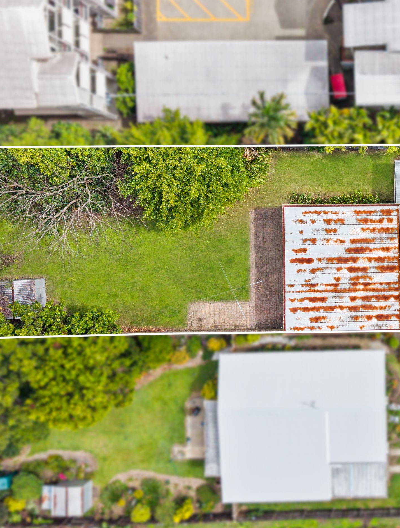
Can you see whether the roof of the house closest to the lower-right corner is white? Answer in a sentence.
Yes, the roof of the house closest to the lower-right corner appears white.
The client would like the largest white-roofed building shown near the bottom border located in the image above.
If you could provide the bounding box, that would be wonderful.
[205,349,388,503]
